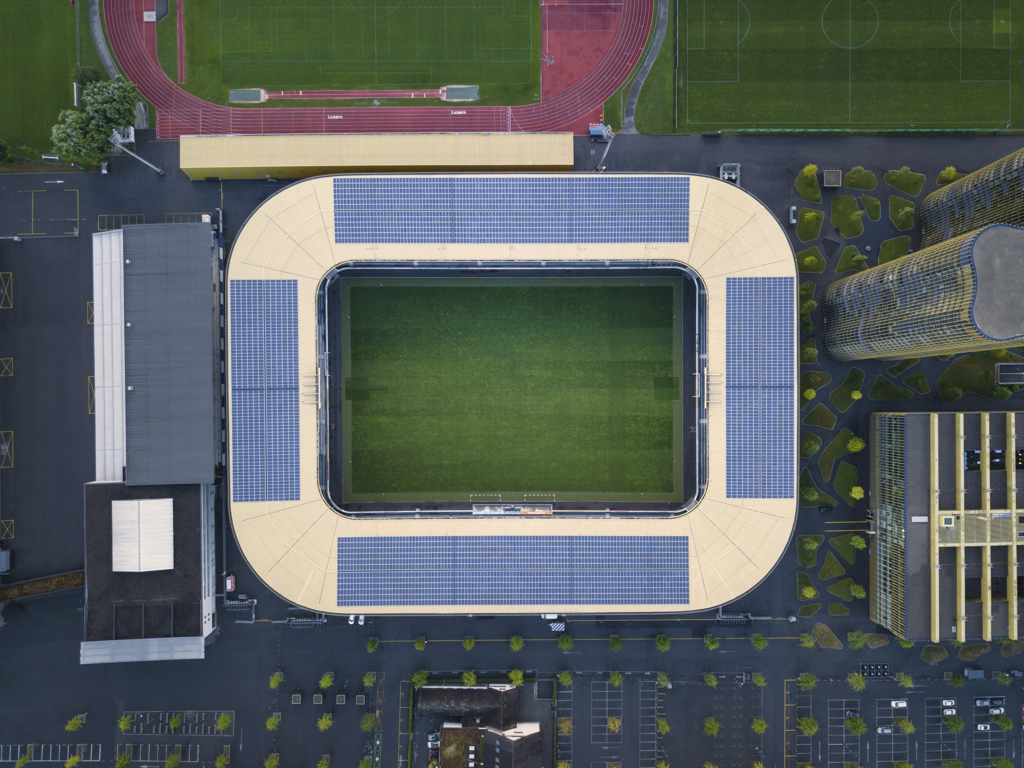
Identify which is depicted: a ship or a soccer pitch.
soccer pitch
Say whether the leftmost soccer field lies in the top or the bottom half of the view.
top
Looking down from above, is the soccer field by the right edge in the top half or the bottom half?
top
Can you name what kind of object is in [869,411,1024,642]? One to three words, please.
building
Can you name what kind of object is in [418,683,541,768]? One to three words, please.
house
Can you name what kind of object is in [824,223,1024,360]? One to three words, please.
building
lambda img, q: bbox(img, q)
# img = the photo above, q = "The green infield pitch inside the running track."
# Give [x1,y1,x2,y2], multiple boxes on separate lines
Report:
[156,0,541,108]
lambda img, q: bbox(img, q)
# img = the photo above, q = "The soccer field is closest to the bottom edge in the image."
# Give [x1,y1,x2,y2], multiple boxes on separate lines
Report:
[341,277,683,503]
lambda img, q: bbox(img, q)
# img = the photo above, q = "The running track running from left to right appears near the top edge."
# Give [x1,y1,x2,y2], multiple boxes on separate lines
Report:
[103,0,653,139]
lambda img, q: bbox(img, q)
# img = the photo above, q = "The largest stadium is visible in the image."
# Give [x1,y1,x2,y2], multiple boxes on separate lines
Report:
[226,172,799,615]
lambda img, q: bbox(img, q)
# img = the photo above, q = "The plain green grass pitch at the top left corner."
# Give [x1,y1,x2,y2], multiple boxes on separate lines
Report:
[0,0,77,150]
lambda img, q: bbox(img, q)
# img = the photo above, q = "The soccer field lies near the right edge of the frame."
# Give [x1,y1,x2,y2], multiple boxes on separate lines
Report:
[677,0,1024,132]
